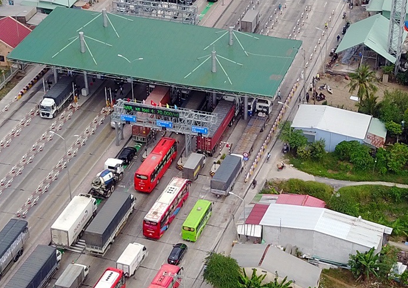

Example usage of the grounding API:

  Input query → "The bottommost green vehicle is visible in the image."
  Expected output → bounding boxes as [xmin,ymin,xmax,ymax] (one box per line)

[181,200,216,245]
